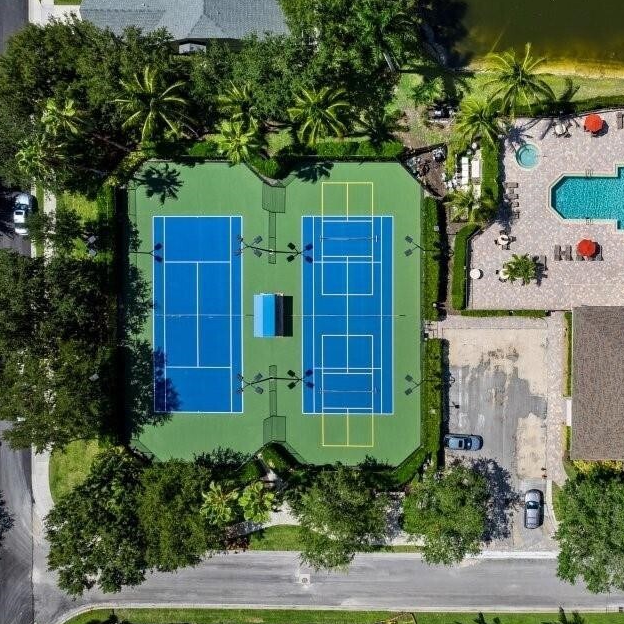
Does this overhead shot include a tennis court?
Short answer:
Yes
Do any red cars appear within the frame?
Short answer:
No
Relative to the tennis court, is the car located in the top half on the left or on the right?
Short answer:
left of it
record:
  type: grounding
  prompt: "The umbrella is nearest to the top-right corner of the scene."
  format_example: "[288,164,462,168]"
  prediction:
[585,115,603,133]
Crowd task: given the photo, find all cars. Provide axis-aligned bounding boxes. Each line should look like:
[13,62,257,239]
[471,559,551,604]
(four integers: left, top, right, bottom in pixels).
[14,194,36,235]
[524,487,543,528]
[444,433,483,451]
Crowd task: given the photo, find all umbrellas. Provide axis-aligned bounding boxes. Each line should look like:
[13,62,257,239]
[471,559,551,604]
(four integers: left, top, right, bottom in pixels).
[578,239,596,257]
[585,115,603,133]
